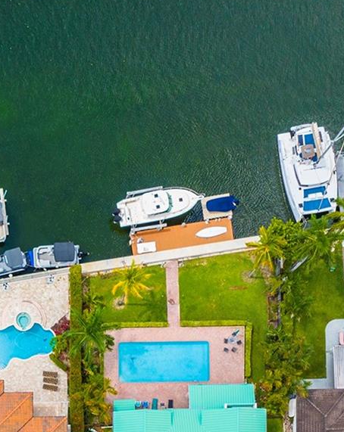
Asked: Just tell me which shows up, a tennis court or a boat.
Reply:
boat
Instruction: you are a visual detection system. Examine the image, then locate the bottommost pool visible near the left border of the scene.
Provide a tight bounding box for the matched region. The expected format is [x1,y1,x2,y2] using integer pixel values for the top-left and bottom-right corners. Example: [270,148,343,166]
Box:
[0,325,57,372]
